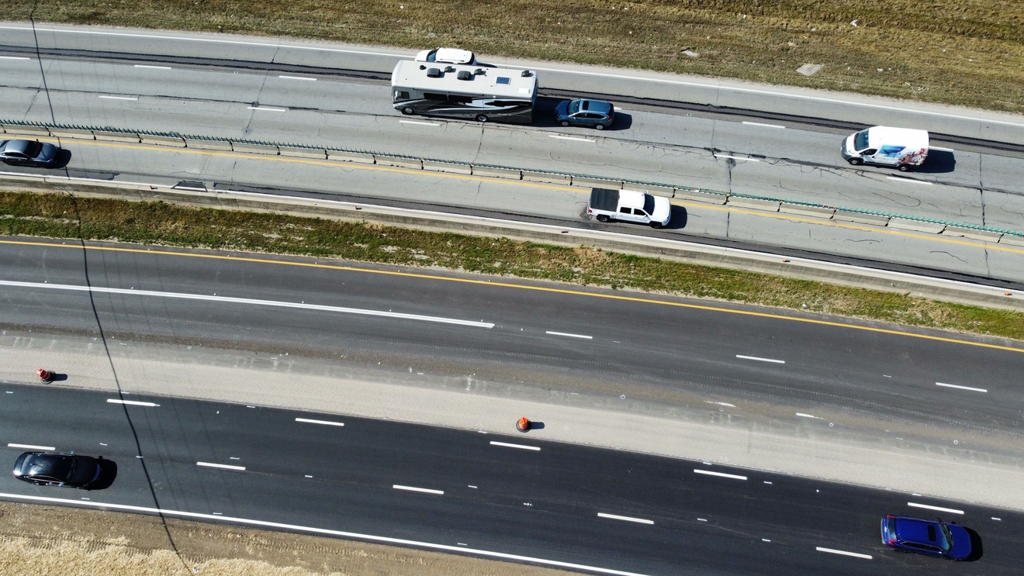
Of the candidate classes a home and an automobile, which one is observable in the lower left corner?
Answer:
automobile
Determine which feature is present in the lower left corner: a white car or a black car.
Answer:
black car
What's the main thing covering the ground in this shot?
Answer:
paved ground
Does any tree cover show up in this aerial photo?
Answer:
No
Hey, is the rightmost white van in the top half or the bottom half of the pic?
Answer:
top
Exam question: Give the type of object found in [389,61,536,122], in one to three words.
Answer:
camper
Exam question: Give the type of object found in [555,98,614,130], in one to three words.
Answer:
car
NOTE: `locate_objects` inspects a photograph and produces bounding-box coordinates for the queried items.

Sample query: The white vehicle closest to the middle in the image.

[587,188,674,227]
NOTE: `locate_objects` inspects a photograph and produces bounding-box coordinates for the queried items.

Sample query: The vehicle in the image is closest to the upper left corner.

[0,139,61,168]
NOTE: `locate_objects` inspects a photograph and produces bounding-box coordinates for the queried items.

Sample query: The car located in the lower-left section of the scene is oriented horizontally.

[13,450,103,489]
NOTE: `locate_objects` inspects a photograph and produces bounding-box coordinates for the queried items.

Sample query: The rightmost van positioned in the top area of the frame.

[840,126,930,172]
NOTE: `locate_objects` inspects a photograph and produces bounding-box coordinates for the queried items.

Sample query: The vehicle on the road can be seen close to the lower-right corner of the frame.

[878,512,975,561]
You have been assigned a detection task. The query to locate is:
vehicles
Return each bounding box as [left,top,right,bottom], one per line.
[878,512,975,561]
[389,61,536,122]
[417,47,480,67]
[0,139,61,168]
[13,450,103,489]
[840,126,930,172]
[555,98,614,130]
[587,188,674,227]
